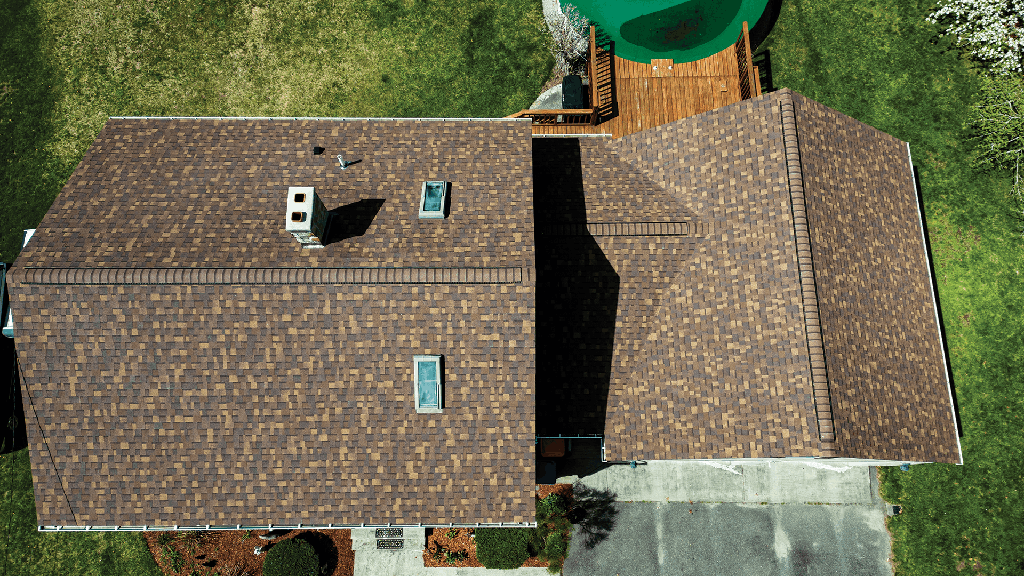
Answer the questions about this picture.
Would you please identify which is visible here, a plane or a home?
home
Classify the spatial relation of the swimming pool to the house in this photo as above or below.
above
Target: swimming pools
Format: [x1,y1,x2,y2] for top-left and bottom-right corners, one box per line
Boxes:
[556,0,768,80]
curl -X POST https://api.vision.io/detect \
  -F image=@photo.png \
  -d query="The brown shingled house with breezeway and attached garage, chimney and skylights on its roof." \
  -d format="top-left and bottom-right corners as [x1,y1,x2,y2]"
[8,88,964,549]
